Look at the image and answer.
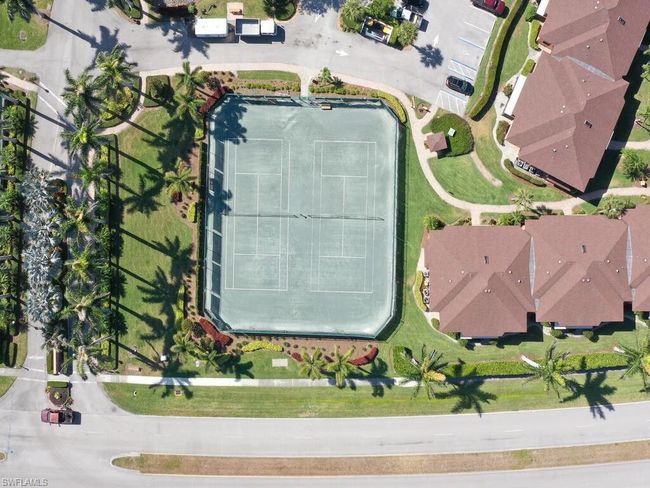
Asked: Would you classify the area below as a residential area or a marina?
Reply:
residential area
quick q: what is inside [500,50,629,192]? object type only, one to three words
house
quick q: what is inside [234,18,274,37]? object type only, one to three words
vehicle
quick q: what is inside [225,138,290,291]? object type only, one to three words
tennis court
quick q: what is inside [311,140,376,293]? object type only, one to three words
tennis court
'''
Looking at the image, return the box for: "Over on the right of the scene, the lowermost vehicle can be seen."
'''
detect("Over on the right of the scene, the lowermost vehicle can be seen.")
[445,74,475,96]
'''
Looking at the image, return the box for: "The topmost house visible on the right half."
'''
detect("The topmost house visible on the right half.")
[529,0,650,81]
